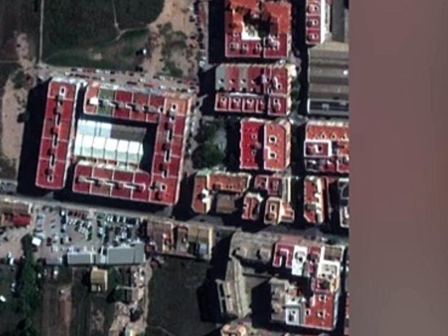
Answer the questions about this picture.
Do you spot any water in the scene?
No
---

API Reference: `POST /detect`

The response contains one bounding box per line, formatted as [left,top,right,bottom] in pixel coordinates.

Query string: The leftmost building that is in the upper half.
[36,74,81,189]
